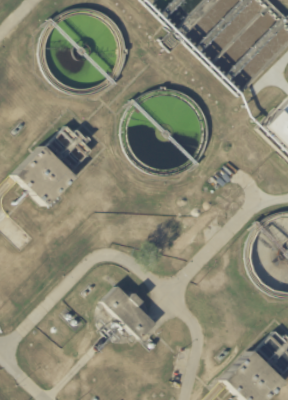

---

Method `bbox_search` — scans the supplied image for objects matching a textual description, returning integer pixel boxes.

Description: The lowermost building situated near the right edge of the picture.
[219,350,286,400]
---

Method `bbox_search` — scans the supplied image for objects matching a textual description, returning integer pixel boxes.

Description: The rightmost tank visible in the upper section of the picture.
[119,88,208,175]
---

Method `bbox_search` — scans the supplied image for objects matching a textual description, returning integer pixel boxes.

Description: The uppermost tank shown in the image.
[37,8,126,95]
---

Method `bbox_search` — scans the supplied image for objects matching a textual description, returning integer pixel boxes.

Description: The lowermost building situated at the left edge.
[10,146,76,207]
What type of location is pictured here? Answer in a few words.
industrial area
